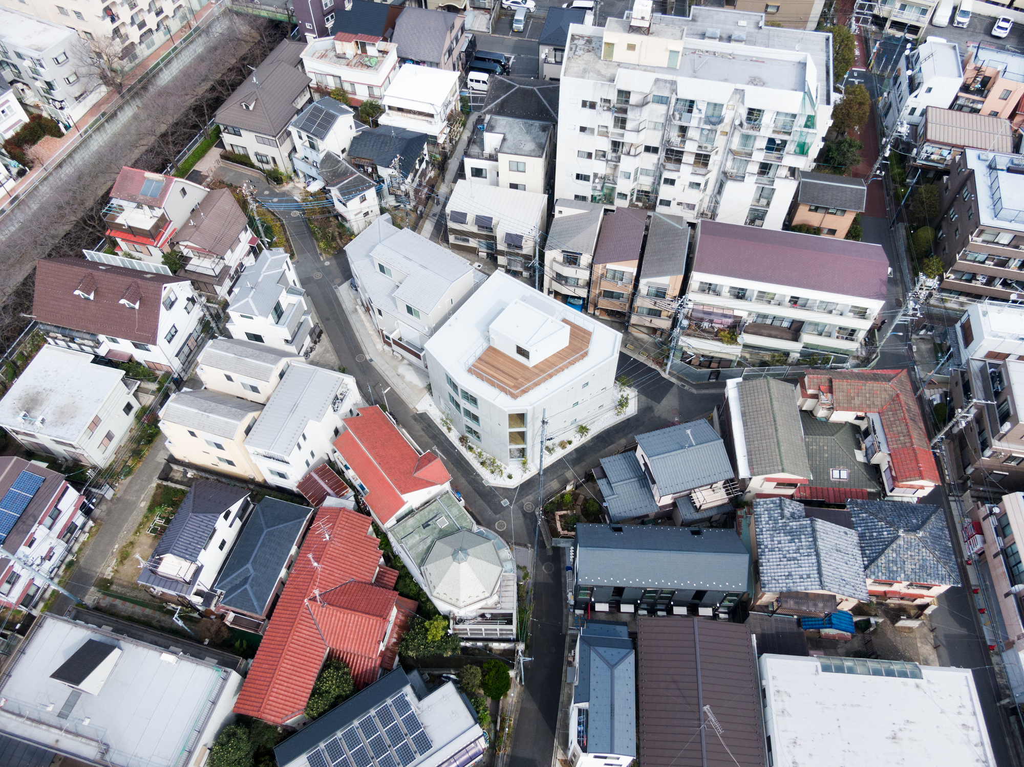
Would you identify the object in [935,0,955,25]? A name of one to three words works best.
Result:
vehicle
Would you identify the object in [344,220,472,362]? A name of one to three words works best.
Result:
house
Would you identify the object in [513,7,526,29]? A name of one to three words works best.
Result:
vehicle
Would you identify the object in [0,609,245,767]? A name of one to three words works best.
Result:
building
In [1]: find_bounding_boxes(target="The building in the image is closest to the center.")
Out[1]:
[425,270,622,464]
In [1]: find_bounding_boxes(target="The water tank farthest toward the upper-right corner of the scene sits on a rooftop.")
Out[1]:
[625,0,660,20]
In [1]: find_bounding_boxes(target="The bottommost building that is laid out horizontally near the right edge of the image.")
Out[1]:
[755,654,997,767]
